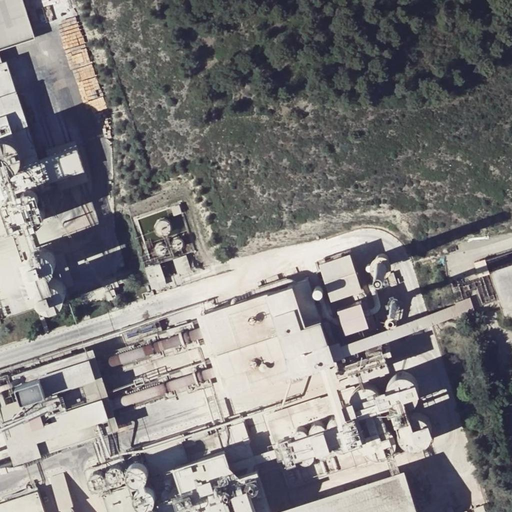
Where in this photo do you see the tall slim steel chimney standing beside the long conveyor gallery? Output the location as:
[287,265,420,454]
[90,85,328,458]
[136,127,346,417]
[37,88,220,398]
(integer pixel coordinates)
[382,290,402,330]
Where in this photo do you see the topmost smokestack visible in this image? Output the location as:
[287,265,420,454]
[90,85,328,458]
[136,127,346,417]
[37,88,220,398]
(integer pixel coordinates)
[368,246,394,290]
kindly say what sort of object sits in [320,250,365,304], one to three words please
shed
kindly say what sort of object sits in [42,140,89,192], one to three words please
building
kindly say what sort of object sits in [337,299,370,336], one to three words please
shed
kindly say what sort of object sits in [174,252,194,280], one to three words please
building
